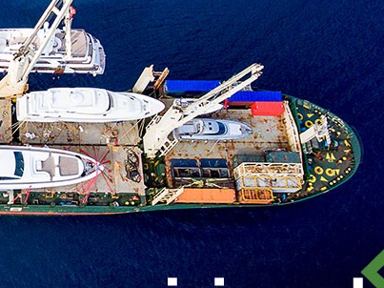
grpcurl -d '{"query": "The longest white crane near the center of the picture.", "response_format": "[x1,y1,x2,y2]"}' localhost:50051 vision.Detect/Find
[141,65,265,169]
